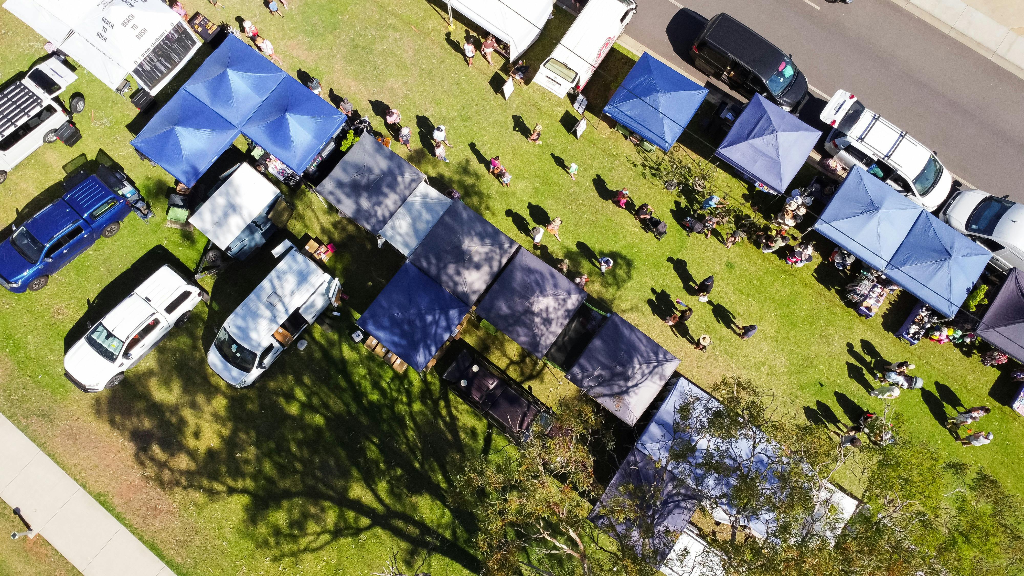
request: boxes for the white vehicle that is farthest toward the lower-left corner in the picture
[57,266,210,400]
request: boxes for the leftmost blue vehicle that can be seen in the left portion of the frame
[0,168,137,301]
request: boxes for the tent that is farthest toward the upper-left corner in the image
[2,0,89,74]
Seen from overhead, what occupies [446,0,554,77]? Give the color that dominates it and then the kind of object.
white tent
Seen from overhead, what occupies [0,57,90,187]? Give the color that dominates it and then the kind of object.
white van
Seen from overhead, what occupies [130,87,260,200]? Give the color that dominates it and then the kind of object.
blue gazebo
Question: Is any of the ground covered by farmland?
No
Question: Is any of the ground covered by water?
No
